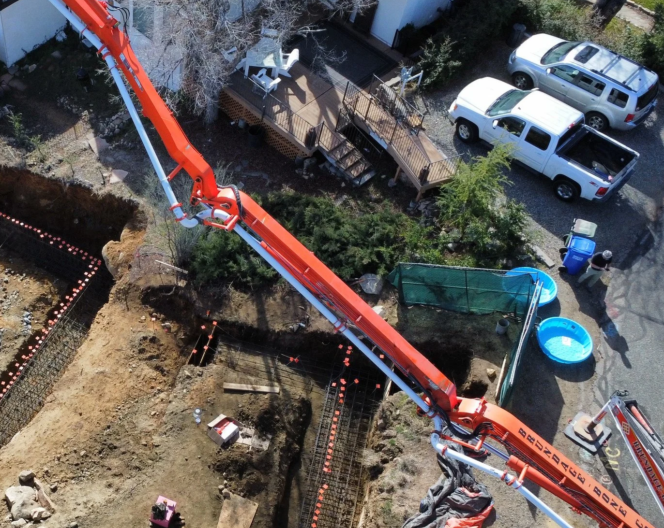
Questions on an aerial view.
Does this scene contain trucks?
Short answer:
Yes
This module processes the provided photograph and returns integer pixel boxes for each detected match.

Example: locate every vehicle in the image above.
[444,74,649,221]
[48,0,664,528]
[507,30,664,137]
